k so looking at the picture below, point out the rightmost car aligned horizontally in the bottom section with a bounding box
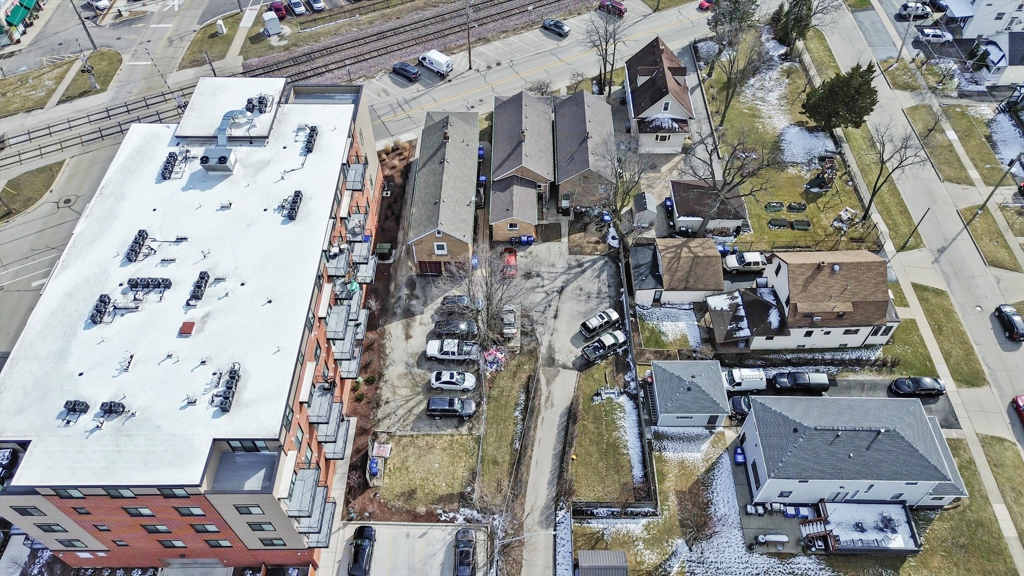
[886,375,949,399]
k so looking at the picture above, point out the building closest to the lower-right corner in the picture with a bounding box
[739,394,971,511]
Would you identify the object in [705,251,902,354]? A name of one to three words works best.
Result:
house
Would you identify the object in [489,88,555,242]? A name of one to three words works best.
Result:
house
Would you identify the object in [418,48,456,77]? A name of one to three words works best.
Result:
van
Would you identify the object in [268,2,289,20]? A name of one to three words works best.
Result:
car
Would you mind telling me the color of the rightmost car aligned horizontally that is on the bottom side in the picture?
black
